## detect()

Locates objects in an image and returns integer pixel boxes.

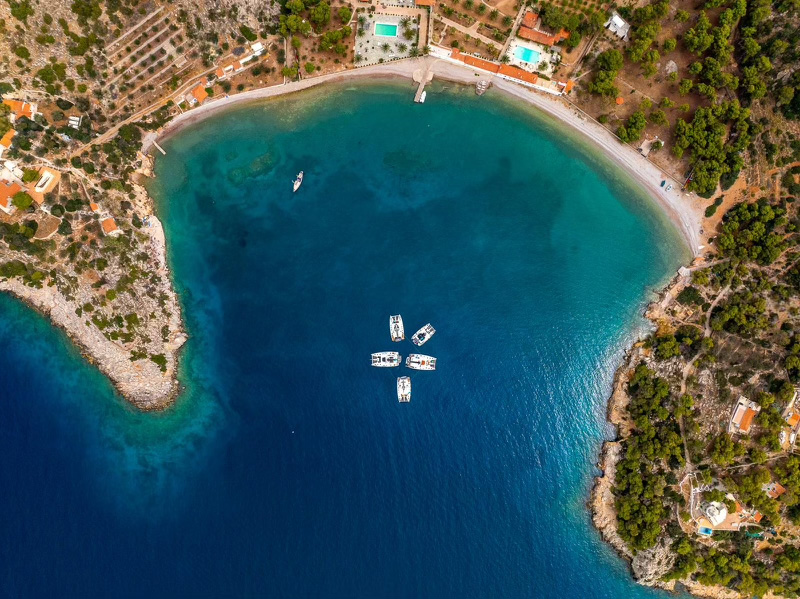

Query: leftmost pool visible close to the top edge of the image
[373,21,399,38]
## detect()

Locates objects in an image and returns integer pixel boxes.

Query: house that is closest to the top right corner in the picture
[600,11,634,43]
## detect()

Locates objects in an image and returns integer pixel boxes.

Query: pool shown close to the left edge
[35,169,55,191]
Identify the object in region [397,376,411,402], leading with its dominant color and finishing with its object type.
white boat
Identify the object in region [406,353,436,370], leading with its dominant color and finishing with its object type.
white boat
